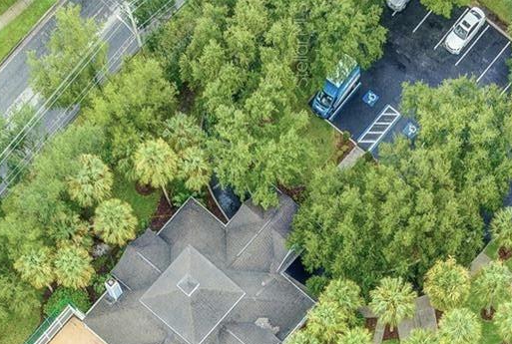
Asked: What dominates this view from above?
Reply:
trees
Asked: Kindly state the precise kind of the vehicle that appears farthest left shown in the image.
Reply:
truck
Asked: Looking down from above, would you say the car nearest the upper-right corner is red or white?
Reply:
white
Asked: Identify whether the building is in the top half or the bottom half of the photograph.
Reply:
bottom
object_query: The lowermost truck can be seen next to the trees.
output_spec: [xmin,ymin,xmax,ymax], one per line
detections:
[313,51,361,126]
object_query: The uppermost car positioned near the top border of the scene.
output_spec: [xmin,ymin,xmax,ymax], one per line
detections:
[387,0,409,12]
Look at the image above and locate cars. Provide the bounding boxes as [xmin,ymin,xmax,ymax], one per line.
[387,0,409,12]
[449,0,487,50]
